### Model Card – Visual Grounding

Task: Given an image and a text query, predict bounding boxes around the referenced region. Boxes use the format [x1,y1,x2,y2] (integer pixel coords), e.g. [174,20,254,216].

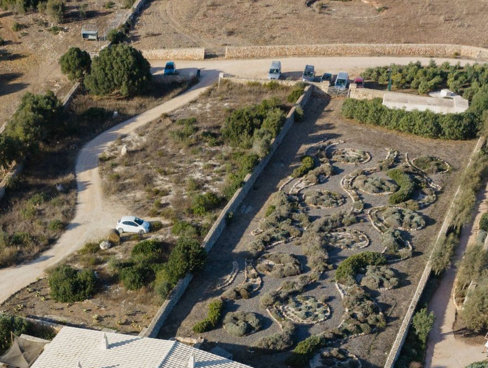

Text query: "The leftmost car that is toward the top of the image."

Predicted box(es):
[162,60,175,74]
